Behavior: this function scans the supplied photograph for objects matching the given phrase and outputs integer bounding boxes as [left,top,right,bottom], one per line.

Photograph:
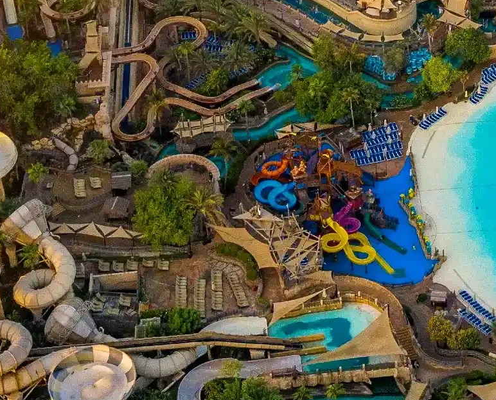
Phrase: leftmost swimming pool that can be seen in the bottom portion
[272,302,382,367]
